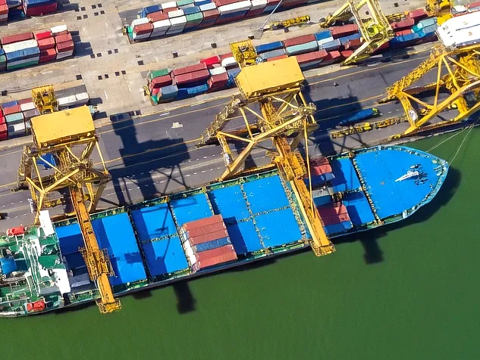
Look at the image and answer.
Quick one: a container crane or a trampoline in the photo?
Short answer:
container crane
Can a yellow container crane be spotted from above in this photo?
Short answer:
Yes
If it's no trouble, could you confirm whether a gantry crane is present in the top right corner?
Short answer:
Yes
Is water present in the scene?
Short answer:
Yes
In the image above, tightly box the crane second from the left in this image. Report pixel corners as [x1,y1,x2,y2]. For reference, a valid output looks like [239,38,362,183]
[201,38,342,262]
